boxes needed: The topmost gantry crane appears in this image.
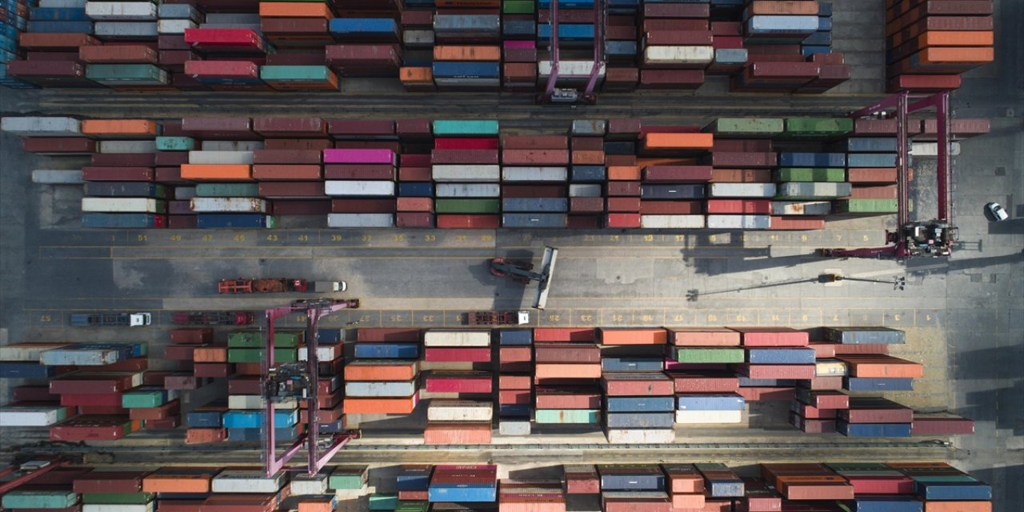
[534,0,605,101]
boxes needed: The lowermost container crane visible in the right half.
[825,86,956,264]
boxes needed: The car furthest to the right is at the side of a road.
[987,202,1007,222]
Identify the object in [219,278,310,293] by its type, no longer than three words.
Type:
vehicle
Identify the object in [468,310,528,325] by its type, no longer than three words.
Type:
vehicle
